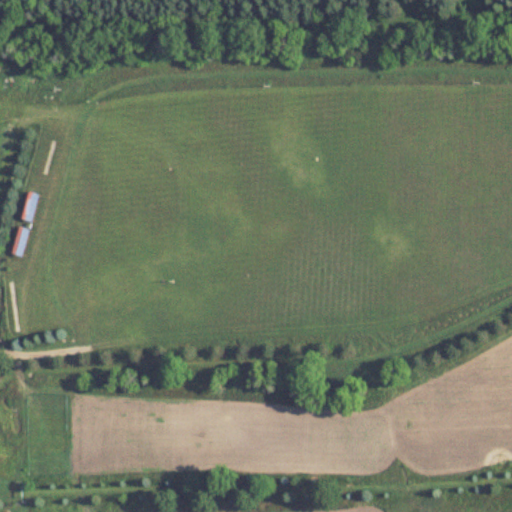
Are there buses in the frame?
No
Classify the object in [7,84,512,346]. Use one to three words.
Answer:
airport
